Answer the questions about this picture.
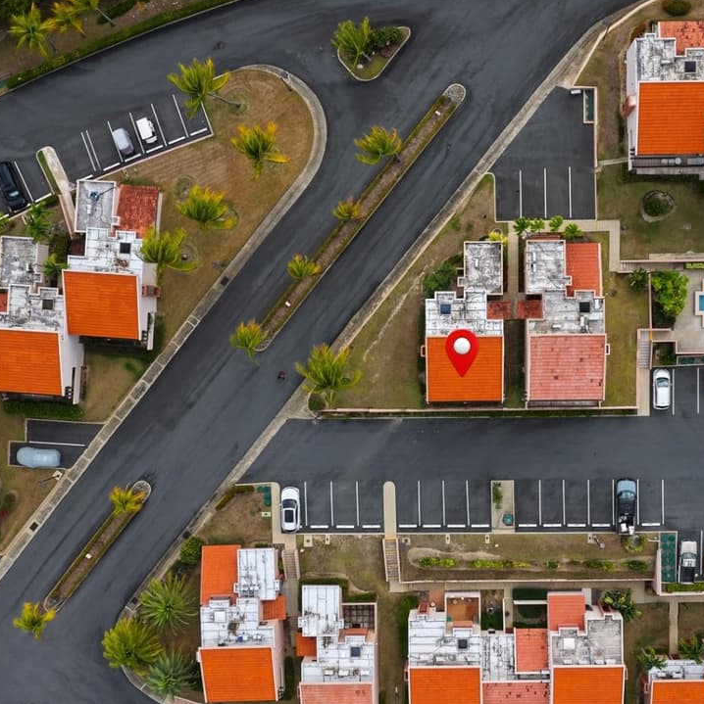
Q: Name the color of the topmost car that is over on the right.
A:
white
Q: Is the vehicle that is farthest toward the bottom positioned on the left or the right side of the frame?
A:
right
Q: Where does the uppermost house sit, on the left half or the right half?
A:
right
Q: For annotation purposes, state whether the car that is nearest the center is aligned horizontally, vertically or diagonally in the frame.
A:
vertically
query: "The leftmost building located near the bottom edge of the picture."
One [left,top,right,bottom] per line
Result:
[196,544,287,704]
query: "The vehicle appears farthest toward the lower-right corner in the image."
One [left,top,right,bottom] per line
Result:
[679,537,699,583]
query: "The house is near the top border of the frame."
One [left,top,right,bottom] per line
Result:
[627,22,704,175]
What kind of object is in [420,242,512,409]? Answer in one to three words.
house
